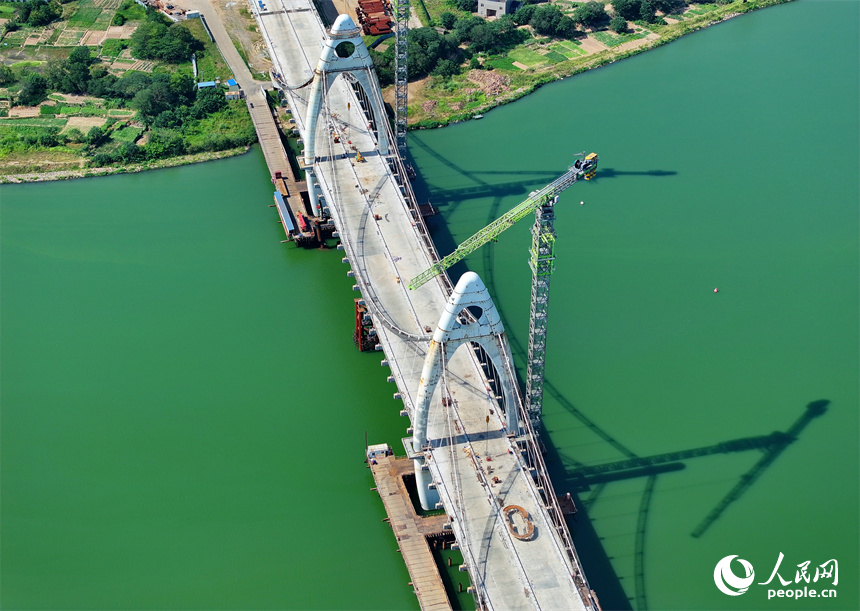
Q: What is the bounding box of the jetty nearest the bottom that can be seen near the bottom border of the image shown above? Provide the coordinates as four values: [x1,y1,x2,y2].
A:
[366,454,456,611]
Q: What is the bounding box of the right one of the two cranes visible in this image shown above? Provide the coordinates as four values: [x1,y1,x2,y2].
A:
[409,150,596,490]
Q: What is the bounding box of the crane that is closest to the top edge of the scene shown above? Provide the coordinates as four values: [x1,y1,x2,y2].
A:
[349,0,413,206]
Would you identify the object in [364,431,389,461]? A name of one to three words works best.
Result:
building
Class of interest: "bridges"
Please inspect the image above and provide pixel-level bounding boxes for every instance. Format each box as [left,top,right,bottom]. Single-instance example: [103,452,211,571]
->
[245,0,606,611]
